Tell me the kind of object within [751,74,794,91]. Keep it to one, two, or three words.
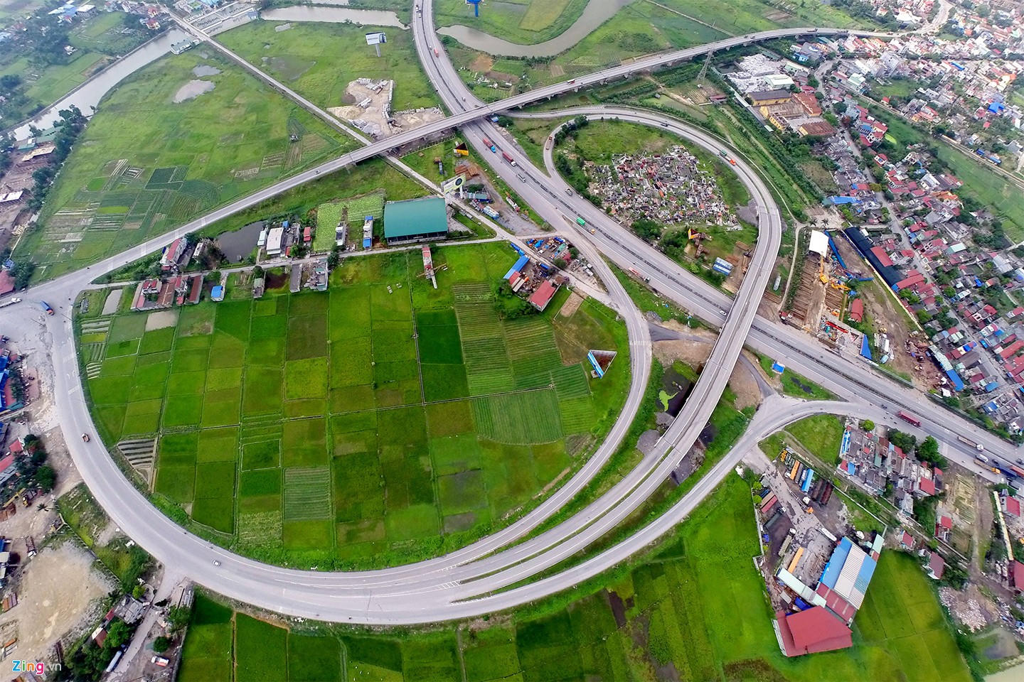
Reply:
house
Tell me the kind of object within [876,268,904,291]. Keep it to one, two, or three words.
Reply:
shed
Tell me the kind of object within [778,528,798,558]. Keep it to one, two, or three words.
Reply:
vehicle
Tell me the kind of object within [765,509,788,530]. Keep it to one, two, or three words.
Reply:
truck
